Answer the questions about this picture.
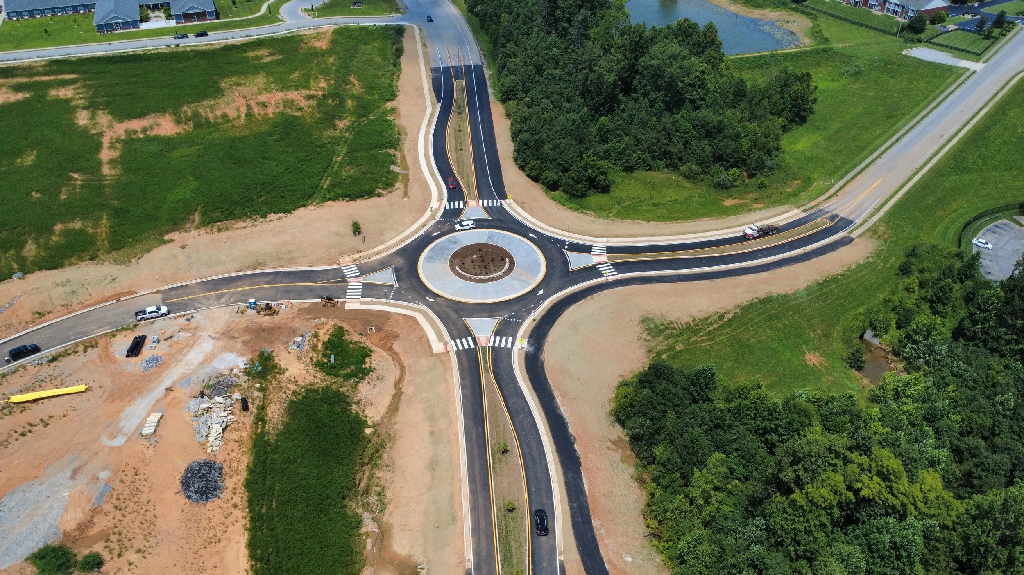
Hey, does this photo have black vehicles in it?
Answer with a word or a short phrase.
Yes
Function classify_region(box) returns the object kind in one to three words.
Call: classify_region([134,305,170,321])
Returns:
vehicle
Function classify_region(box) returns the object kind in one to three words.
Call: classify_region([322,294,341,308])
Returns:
work vehicle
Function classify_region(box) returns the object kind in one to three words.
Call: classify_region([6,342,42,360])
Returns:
car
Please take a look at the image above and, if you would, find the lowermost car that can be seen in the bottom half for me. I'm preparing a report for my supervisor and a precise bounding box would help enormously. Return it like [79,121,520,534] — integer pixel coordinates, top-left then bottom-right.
[534,507,550,535]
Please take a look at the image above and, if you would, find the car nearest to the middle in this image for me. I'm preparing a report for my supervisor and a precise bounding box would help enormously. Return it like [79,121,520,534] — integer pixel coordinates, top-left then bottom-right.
[454,219,476,232]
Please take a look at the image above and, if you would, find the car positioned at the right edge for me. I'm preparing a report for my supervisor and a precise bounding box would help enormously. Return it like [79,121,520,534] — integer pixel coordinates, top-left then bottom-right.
[971,237,996,249]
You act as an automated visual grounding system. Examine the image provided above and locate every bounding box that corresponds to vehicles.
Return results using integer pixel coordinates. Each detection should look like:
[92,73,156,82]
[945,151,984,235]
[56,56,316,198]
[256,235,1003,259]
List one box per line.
[322,294,341,308]
[252,301,281,317]
[971,237,996,249]
[447,176,456,187]
[426,12,433,20]
[6,342,42,360]
[454,219,476,232]
[194,30,208,36]
[741,221,783,239]
[134,305,170,321]
[534,507,550,535]
[174,32,188,38]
